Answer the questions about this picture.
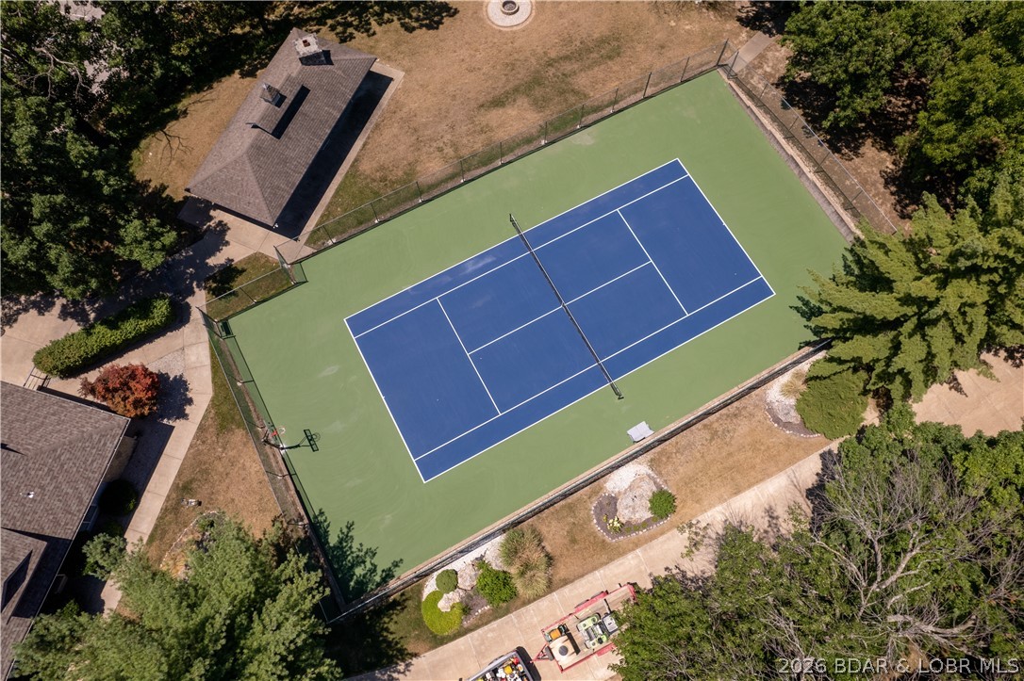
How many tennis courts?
1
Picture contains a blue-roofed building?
No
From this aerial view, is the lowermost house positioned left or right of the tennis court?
left of it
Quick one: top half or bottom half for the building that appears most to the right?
top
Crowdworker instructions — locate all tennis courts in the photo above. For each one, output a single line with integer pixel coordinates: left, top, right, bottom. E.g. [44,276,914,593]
[224,66,888,606]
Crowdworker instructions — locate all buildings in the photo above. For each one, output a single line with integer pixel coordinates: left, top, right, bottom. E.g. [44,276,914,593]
[0,376,143,681]
[180,27,409,267]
